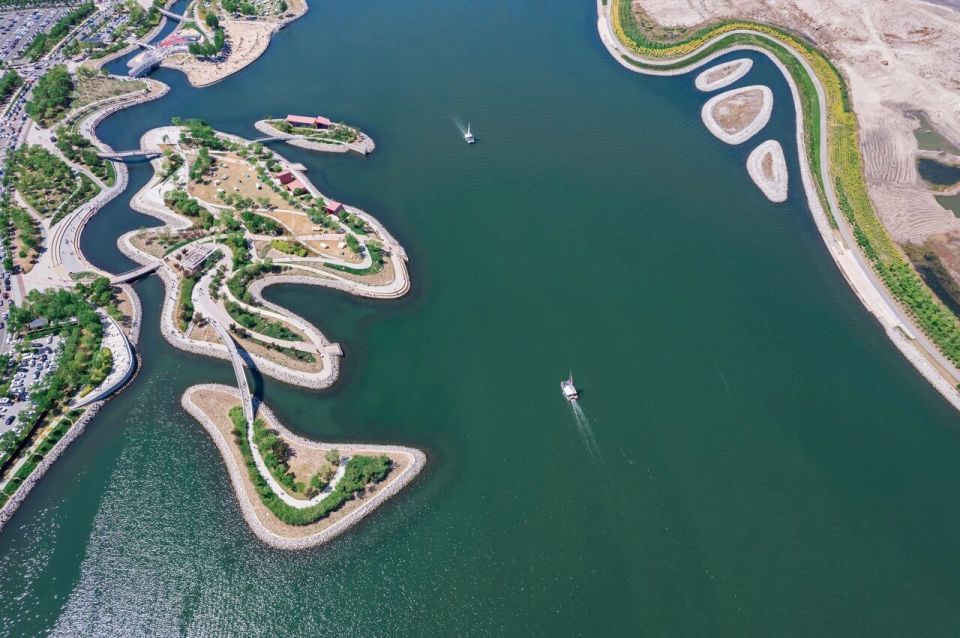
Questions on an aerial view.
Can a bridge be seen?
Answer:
Yes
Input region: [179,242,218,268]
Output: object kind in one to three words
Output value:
building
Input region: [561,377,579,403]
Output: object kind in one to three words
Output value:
boat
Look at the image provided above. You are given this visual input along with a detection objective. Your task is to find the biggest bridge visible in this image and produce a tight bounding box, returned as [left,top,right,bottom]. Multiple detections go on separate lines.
[205,314,254,419]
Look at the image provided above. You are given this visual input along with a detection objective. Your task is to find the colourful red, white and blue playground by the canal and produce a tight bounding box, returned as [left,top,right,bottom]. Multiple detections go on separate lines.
[156,28,202,49]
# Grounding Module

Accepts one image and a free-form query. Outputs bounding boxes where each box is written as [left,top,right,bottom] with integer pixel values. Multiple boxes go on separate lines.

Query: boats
[463,127,476,141]
[561,377,579,403]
